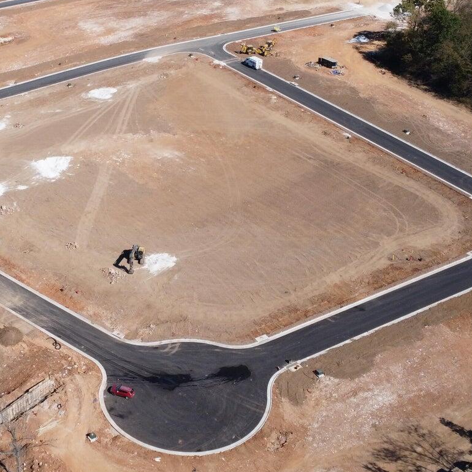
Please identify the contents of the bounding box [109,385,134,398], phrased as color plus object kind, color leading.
red vehicle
